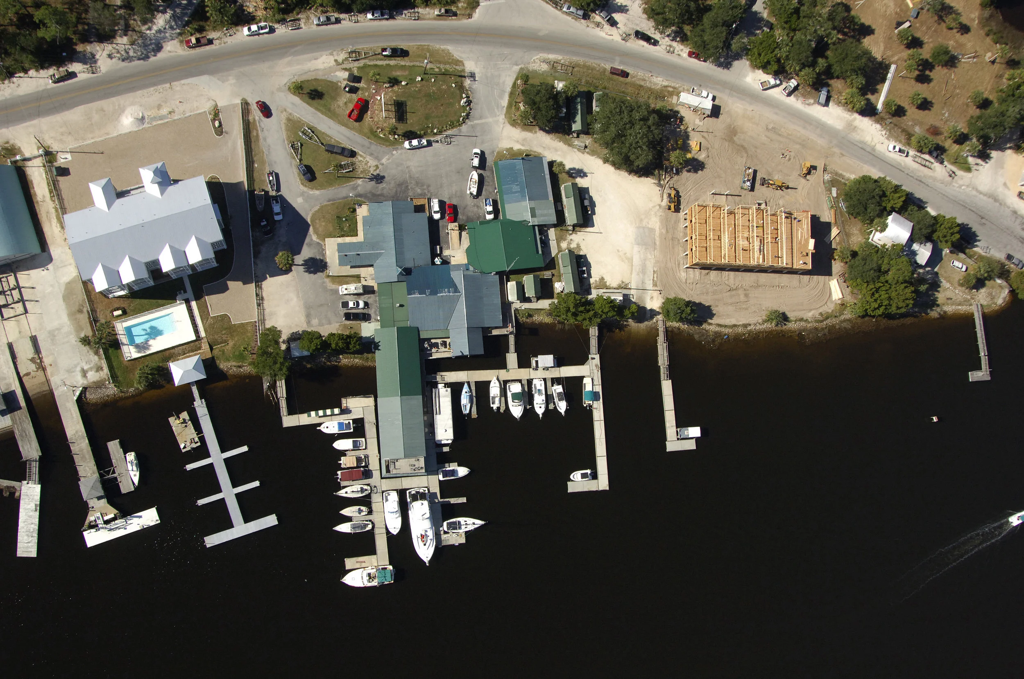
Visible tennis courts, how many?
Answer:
zero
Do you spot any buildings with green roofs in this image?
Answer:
Yes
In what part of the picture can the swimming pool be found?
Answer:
left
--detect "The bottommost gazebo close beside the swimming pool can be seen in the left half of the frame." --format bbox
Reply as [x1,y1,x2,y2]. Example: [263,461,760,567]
[169,355,208,386]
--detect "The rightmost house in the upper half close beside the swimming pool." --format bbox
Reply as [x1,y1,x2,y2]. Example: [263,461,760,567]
[63,161,231,298]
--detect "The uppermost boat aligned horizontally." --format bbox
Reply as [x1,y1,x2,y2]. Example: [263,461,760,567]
[528,355,557,368]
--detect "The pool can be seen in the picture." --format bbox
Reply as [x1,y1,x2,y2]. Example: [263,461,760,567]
[115,302,196,360]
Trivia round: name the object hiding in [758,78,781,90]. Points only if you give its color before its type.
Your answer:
white vehicle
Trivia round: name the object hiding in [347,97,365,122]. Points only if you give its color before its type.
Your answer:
red vehicle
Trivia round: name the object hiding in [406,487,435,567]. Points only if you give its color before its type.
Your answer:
white boat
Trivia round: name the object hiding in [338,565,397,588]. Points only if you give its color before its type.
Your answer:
white boat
